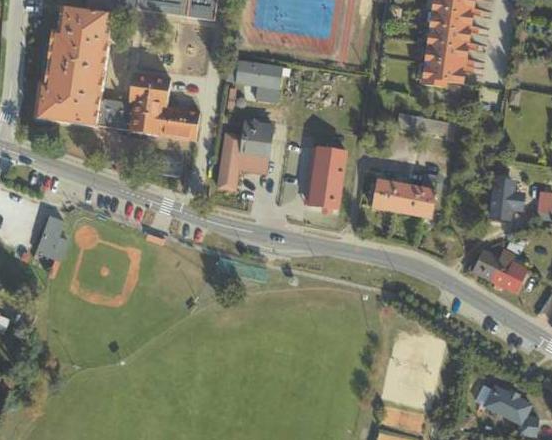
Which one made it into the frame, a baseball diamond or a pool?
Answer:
baseball diamond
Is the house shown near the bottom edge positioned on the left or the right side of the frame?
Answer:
right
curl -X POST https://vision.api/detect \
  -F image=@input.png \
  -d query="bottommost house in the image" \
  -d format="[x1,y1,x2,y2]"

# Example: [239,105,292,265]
[477,383,539,437]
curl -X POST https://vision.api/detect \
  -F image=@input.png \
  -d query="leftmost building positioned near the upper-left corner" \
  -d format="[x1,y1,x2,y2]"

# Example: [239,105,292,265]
[36,6,109,128]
